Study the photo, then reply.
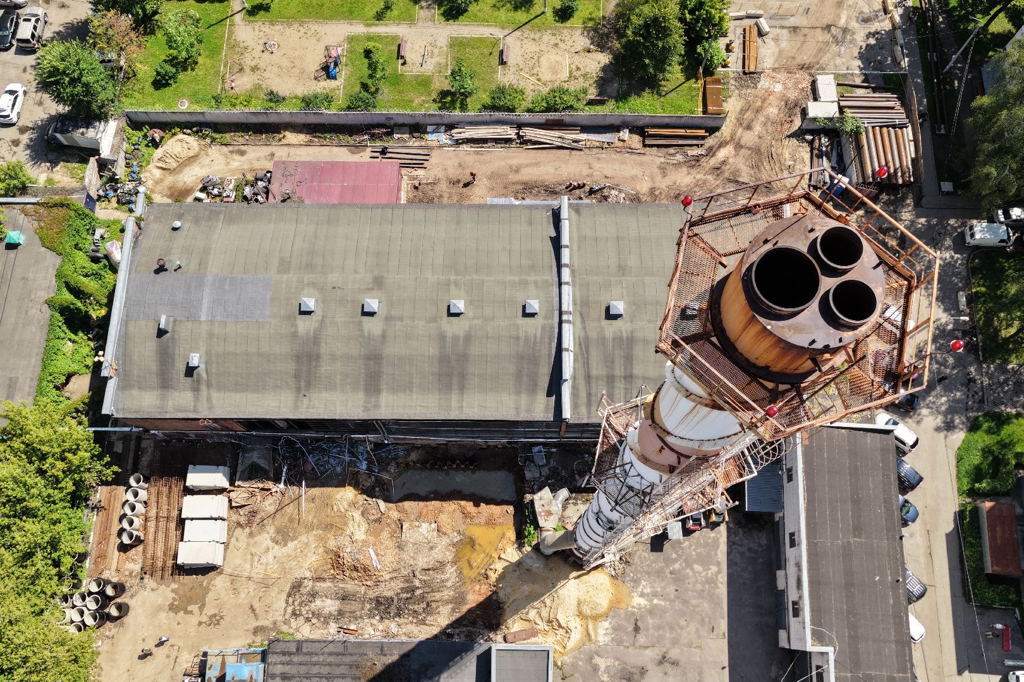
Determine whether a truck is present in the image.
Yes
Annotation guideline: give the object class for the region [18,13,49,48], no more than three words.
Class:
car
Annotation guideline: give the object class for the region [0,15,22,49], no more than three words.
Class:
car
